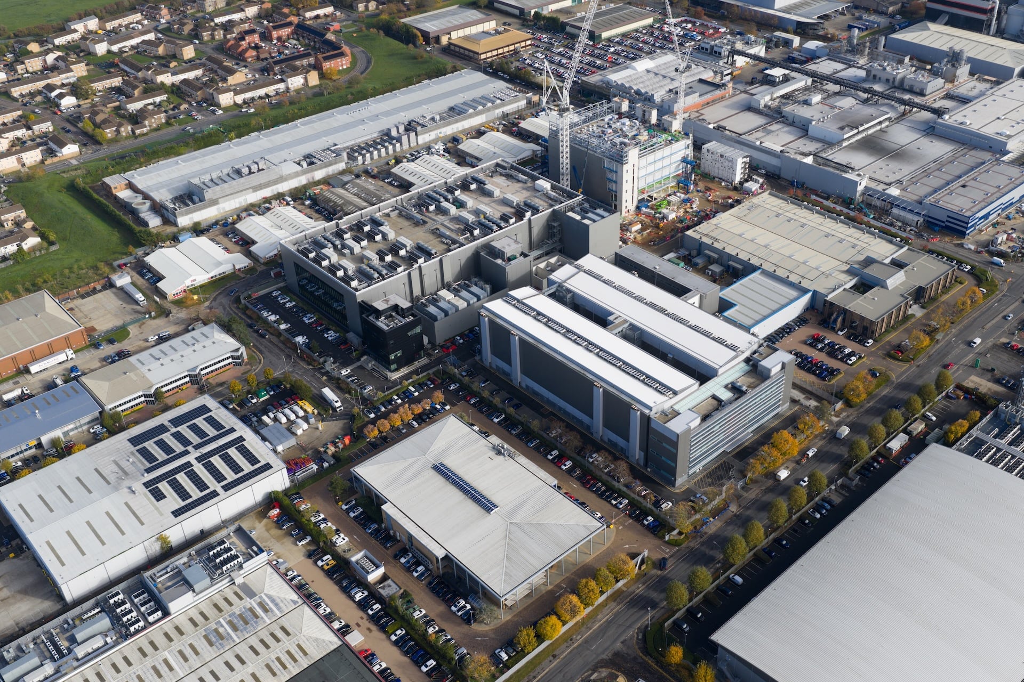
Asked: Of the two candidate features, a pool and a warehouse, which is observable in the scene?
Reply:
warehouse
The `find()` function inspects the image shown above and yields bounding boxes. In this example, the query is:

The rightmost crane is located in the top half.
[664,0,698,136]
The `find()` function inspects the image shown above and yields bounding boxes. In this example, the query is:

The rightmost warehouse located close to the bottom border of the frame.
[707,443,1024,682]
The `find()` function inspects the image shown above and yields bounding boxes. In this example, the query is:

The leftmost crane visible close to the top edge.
[539,0,599,191]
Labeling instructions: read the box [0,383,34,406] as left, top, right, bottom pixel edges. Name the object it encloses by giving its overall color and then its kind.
white truck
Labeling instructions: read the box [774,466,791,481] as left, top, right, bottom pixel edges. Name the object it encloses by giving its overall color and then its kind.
white vehicle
